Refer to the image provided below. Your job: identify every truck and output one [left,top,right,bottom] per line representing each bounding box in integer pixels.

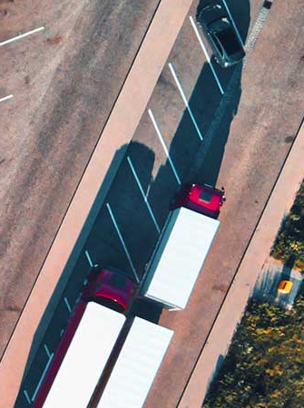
[85,178,226,408]
[31,266,135,408]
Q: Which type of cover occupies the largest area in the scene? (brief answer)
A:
paved ground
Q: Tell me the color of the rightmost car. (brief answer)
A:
black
